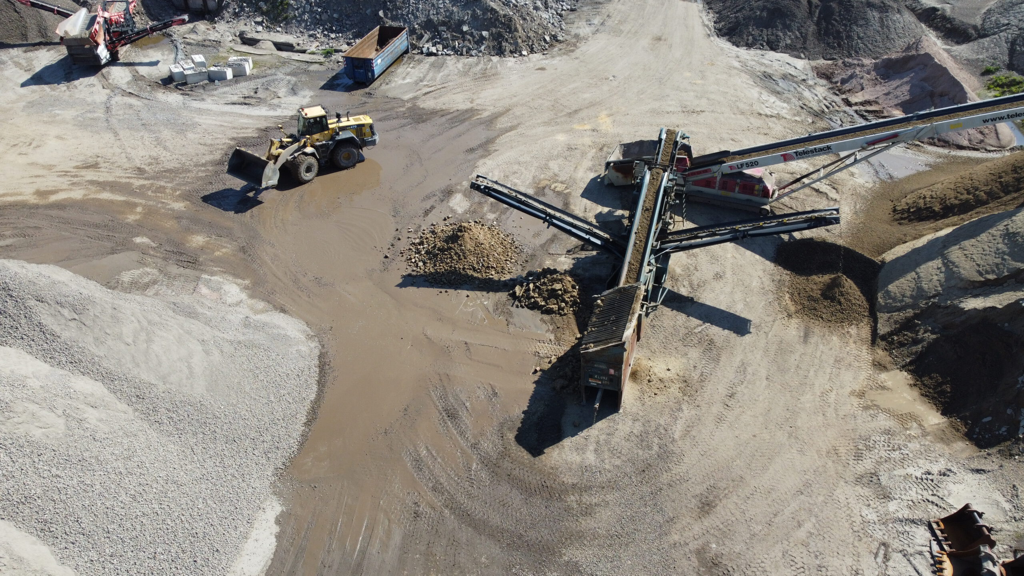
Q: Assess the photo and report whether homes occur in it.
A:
No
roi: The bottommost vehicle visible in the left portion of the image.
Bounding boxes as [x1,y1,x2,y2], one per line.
[225,105,384,191]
